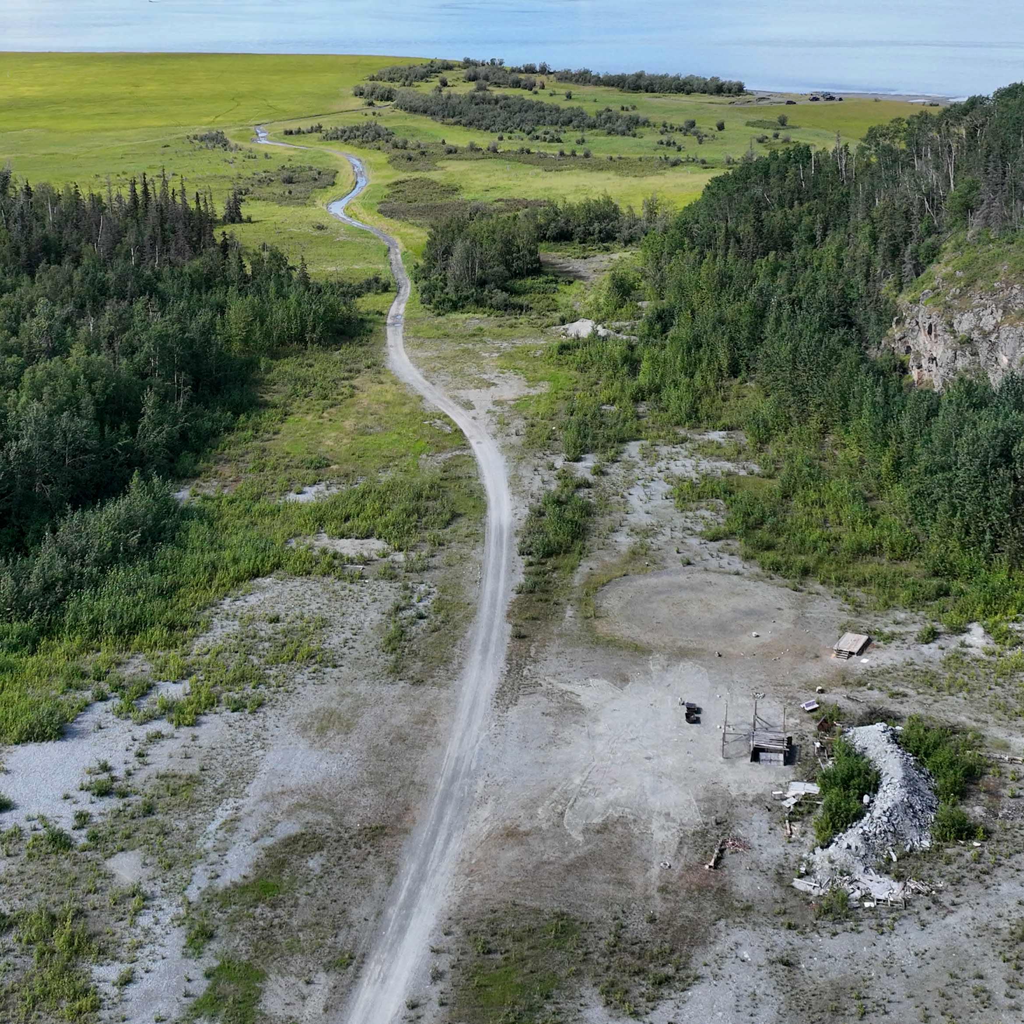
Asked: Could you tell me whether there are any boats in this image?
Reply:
No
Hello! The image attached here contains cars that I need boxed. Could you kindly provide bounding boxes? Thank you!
[785,99,797,104]
[824,95,837,100]
[809,96,821,101]
[819,92,832,97]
